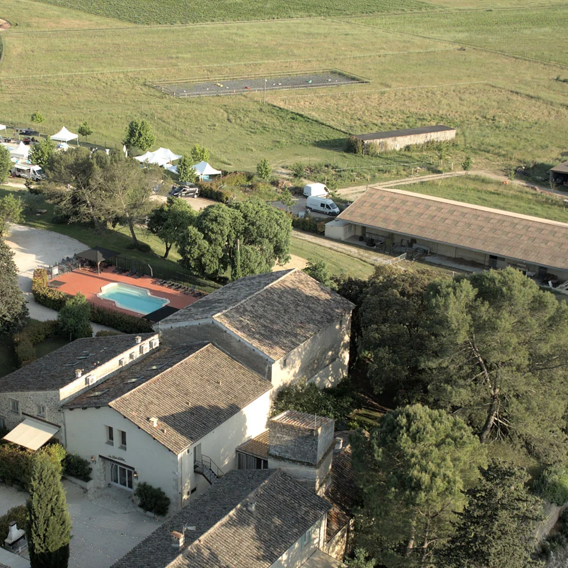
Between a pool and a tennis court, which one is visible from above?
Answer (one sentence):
I can see a pool in this picture.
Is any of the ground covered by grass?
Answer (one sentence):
Yes, some grass is visible.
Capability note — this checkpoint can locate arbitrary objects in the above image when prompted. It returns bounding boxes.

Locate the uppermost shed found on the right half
[341,120,451,155]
